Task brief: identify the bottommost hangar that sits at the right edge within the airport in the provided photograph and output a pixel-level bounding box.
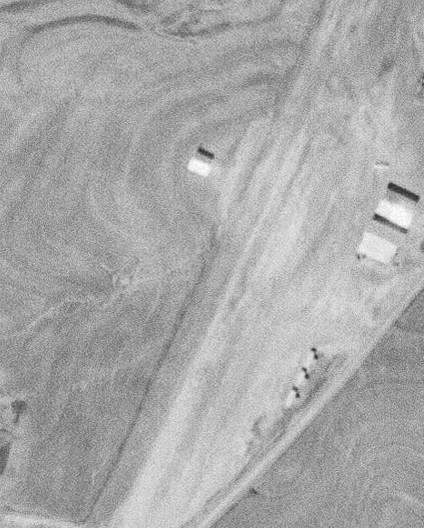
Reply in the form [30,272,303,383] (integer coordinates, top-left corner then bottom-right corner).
[359,218,405,264]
